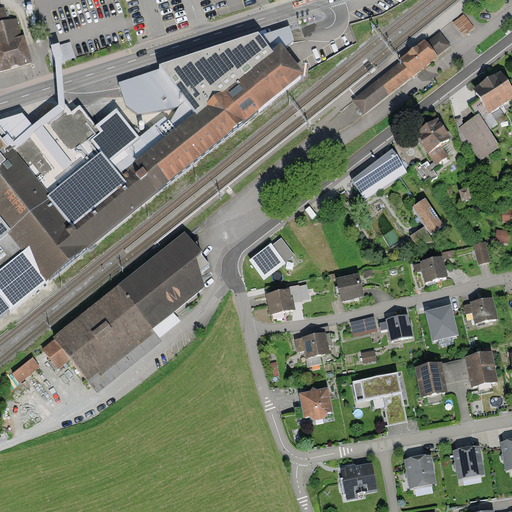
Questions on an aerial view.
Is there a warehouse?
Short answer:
Yes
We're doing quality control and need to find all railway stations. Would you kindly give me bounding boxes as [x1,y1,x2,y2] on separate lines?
[352,40,438,114]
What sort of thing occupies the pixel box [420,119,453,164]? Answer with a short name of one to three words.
house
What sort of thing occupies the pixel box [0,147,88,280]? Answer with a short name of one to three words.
building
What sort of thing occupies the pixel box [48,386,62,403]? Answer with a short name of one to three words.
vehicle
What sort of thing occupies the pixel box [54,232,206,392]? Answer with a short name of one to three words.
warehouse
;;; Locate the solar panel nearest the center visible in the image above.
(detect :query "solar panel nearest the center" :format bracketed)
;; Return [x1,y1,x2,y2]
[253,248,280,274]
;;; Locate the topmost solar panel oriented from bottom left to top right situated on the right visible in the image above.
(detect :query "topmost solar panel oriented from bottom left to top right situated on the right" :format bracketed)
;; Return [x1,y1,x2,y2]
[357,158,402,193]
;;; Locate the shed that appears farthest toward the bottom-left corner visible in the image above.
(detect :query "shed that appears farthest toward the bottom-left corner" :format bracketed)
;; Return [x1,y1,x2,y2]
[12,358,40,383]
